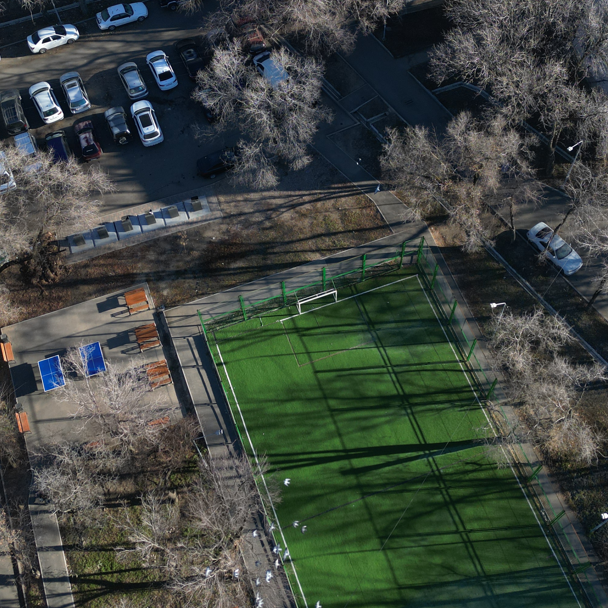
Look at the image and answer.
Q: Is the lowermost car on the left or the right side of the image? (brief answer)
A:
right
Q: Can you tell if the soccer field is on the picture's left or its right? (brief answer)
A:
right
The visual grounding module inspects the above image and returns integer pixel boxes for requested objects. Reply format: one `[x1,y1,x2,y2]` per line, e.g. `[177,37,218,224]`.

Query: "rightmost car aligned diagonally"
[529,224,579,277]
